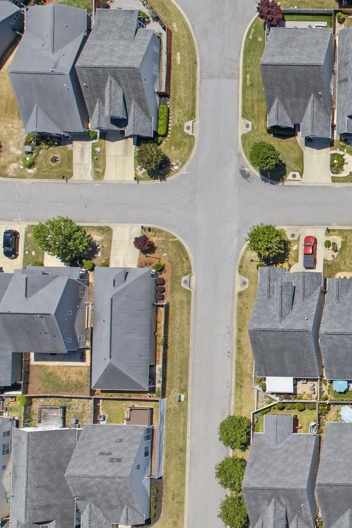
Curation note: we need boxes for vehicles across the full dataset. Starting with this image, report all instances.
[303,236,317,270]
[4,233,20,257]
